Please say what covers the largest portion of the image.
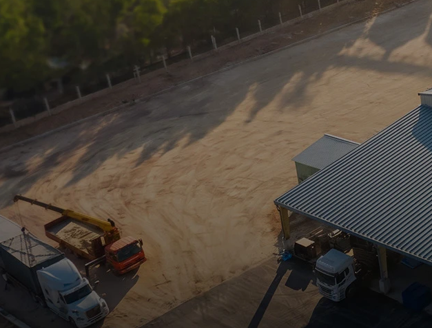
paved ground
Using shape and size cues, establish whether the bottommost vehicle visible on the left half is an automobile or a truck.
truck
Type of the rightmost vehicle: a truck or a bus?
truck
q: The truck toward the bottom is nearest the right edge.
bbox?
[313,248,378,301]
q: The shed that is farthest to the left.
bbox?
[292,129,370,183]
